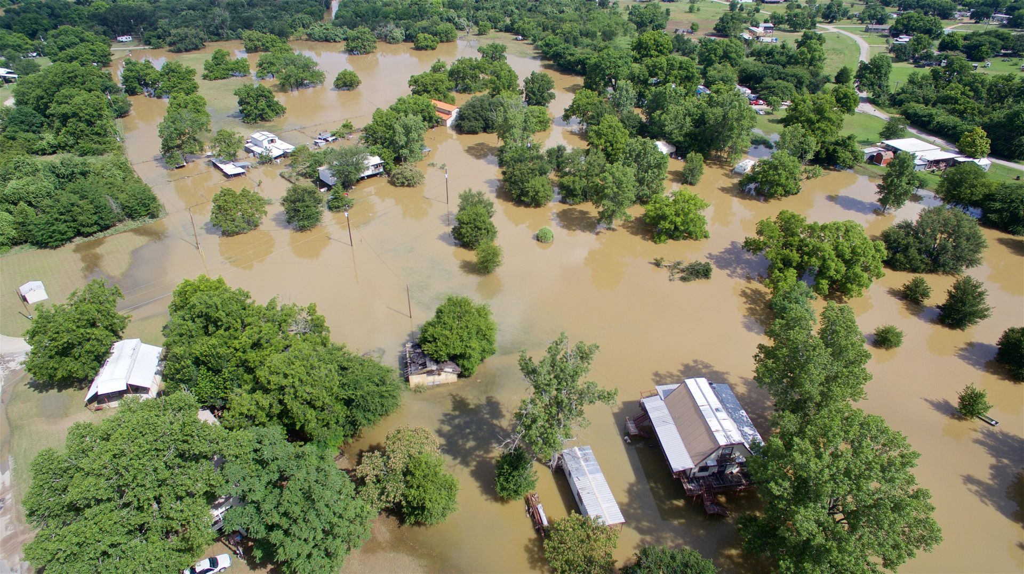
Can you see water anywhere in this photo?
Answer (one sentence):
Yes, the picture does contain water.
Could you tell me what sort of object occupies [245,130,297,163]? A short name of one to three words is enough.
barn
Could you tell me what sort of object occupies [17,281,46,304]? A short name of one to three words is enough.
shed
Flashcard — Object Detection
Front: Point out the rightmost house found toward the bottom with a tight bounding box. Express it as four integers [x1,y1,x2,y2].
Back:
[619,373,784,540]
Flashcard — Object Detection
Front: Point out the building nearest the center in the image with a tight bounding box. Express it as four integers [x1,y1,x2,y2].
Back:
[402,343,460,388]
